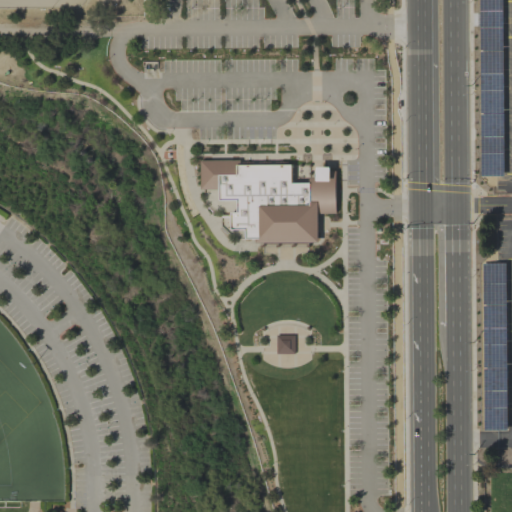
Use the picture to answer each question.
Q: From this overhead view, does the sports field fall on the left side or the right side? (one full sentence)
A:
You can find the sports field on the left side of the picture.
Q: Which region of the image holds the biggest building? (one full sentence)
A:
The biggest building appears toward the center of the photo.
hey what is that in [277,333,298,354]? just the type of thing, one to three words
gazebo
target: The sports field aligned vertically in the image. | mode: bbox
[0,322,64,500]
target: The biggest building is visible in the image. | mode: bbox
[200,158,336,245]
